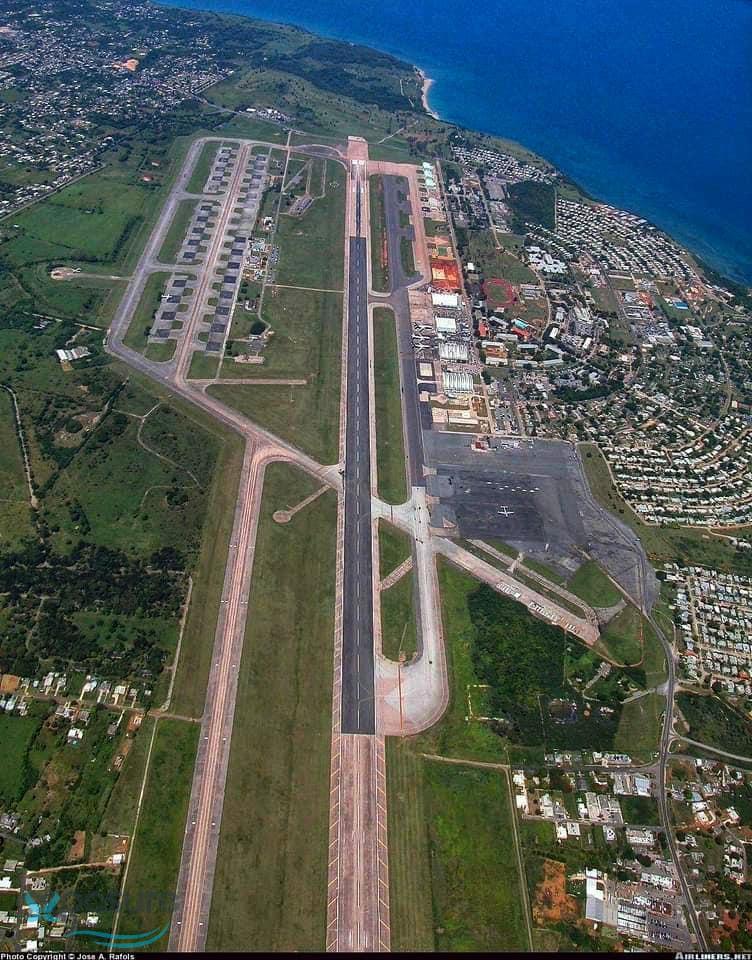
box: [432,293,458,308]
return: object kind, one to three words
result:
hangar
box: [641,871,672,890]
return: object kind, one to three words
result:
building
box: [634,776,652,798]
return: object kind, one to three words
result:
building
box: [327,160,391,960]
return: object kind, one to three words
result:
runway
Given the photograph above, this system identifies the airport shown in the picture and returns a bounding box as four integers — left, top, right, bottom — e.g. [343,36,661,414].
[51,136,661,960]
